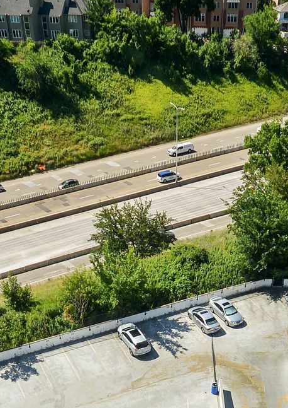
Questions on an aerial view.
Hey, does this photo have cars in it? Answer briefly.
Yes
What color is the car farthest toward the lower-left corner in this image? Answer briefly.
white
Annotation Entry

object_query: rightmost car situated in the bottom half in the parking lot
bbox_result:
[209,296,242,328]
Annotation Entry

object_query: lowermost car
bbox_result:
[118,323,152,357]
